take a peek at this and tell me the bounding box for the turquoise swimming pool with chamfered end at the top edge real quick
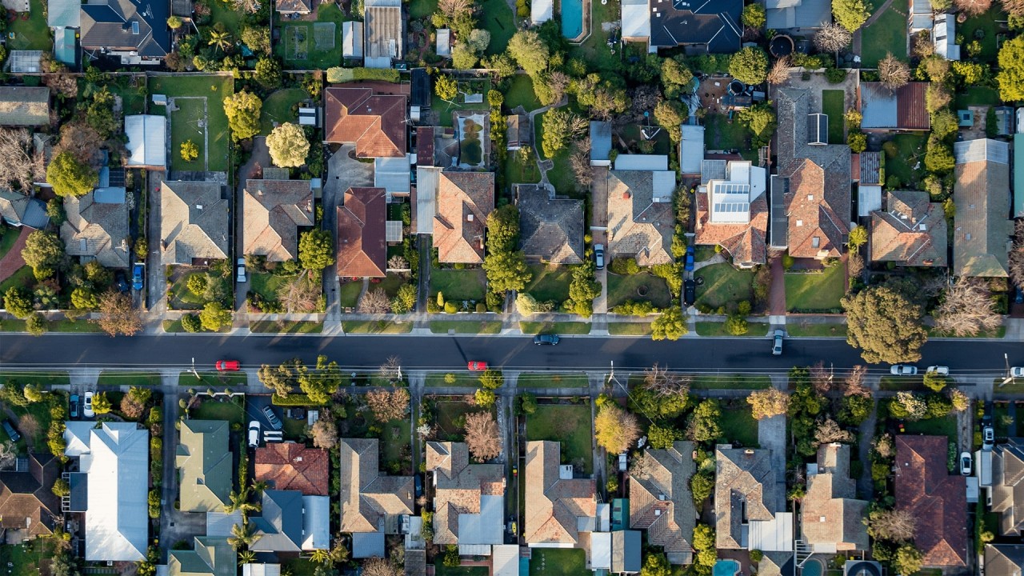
[558,0,592,42]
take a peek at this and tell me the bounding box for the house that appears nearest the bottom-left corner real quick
[0,453,63,545]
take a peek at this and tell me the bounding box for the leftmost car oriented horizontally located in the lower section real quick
[216,359,241,371]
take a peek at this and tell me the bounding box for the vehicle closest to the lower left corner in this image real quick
[1,417,22,443]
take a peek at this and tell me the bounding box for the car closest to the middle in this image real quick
[533,334,559,346]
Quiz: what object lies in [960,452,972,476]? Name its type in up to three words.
vehicle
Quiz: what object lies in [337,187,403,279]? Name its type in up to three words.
house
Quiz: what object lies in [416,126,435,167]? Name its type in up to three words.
shed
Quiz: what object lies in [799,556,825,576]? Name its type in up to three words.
swimming pool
